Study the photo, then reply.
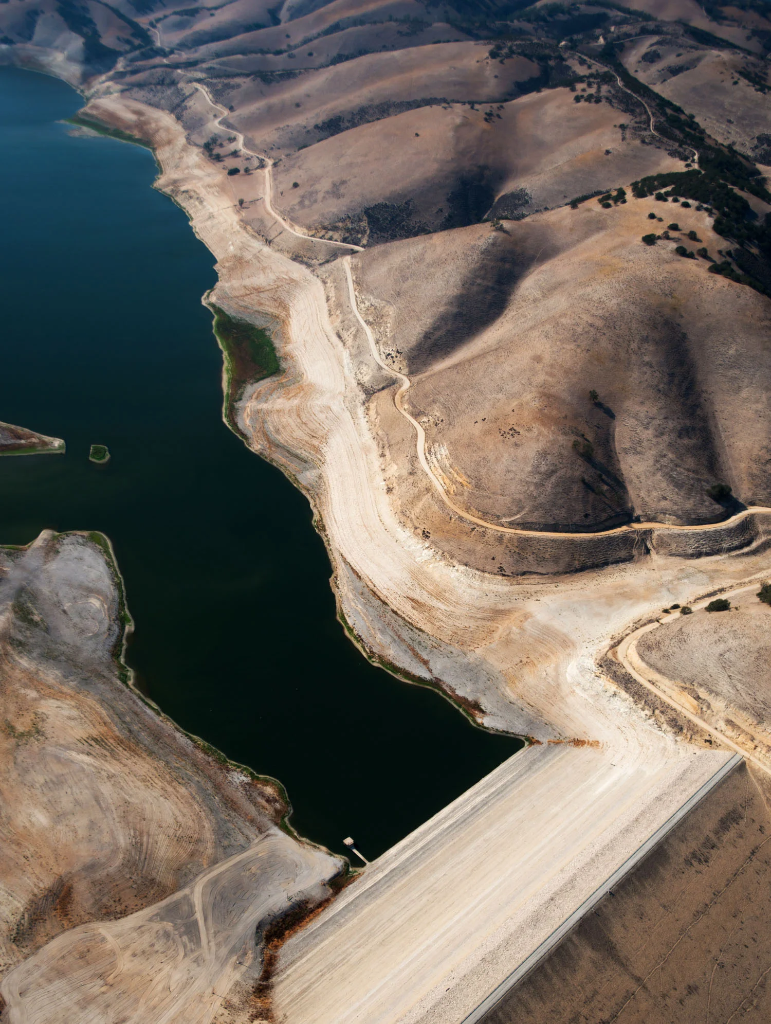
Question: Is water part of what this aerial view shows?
Yes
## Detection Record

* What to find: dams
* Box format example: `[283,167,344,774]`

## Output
[274,740,771,1024]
